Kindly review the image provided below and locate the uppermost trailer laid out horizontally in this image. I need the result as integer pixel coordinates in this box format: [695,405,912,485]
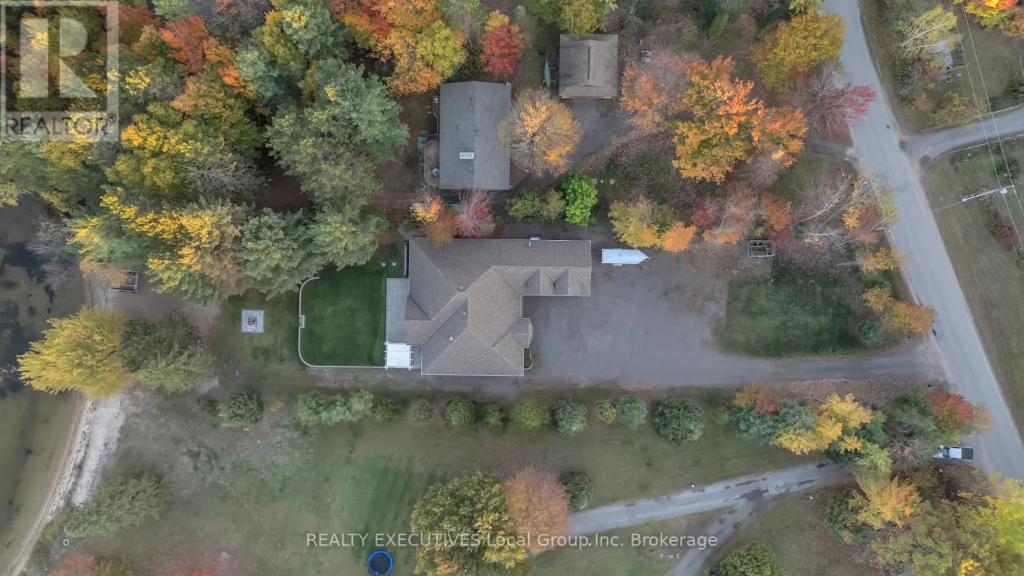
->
[600,248,652,265]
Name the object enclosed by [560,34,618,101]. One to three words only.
building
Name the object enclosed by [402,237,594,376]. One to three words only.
house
